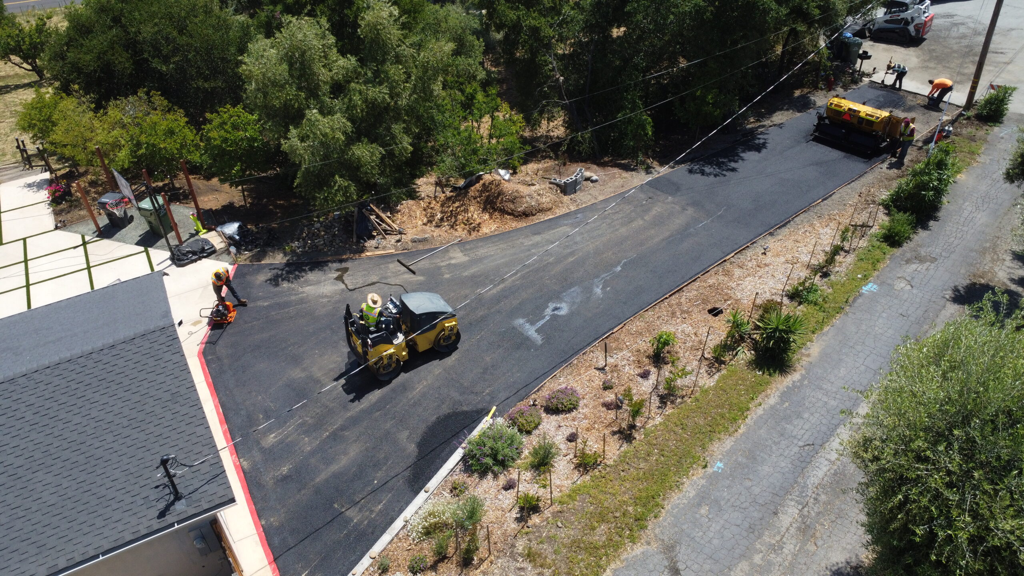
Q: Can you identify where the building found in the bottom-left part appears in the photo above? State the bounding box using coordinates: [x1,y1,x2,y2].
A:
[0,271,250,576]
